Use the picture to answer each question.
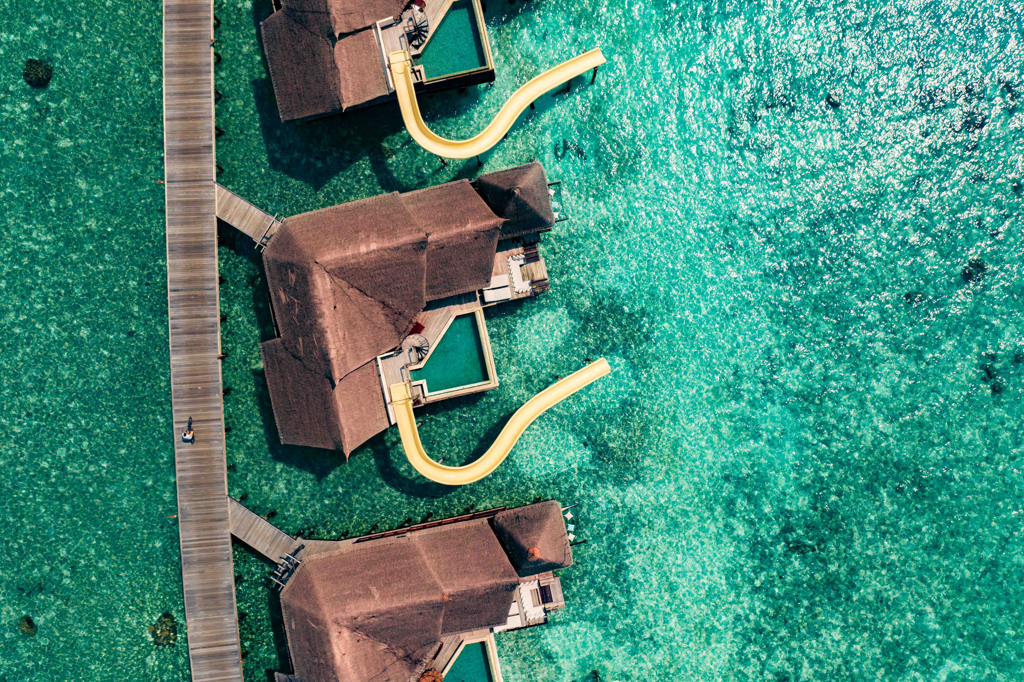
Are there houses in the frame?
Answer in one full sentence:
Yes, the photo shows a house.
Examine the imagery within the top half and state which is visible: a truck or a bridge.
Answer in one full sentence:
It is a bridge that can be seen within the top half.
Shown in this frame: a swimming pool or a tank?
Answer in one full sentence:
Of the two, only a swimming pool appears.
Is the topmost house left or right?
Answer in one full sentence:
You can find the topmost house on the left side of the picture.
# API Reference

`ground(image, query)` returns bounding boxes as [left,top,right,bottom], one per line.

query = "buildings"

[274,505,527,682]
[258,178,509,460]
[256,0,448,137]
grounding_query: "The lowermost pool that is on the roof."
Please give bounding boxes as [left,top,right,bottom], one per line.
[438,633,507,682]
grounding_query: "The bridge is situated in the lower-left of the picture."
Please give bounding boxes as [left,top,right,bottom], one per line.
[228,497,298,569]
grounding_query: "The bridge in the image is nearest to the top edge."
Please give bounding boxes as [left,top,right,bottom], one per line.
[215,183,278,248]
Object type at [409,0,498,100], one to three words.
swimming pool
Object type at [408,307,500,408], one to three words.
swimming pool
